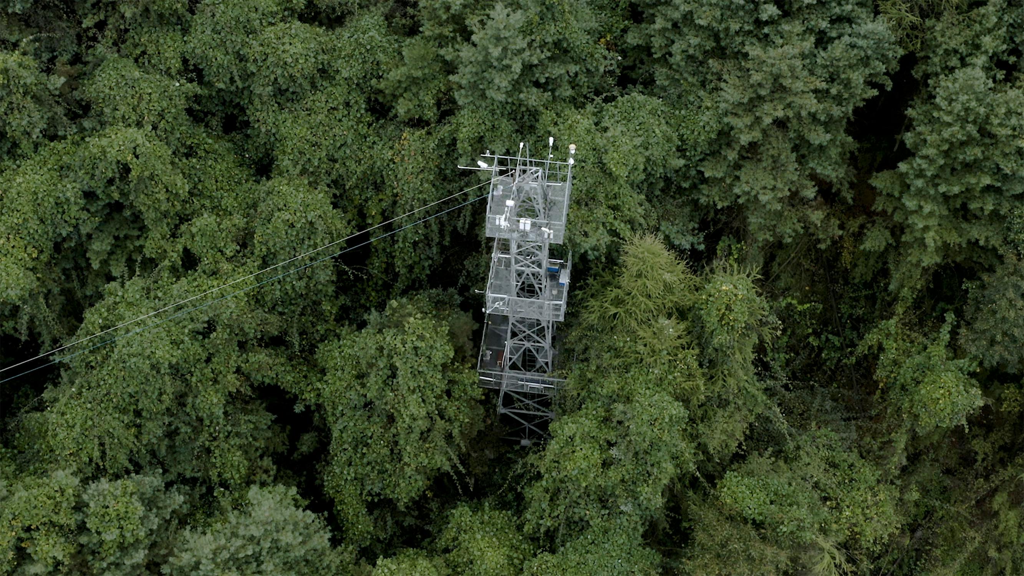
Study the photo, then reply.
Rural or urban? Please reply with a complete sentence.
The area is rural.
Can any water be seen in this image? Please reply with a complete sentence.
No, the picture contains no water.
